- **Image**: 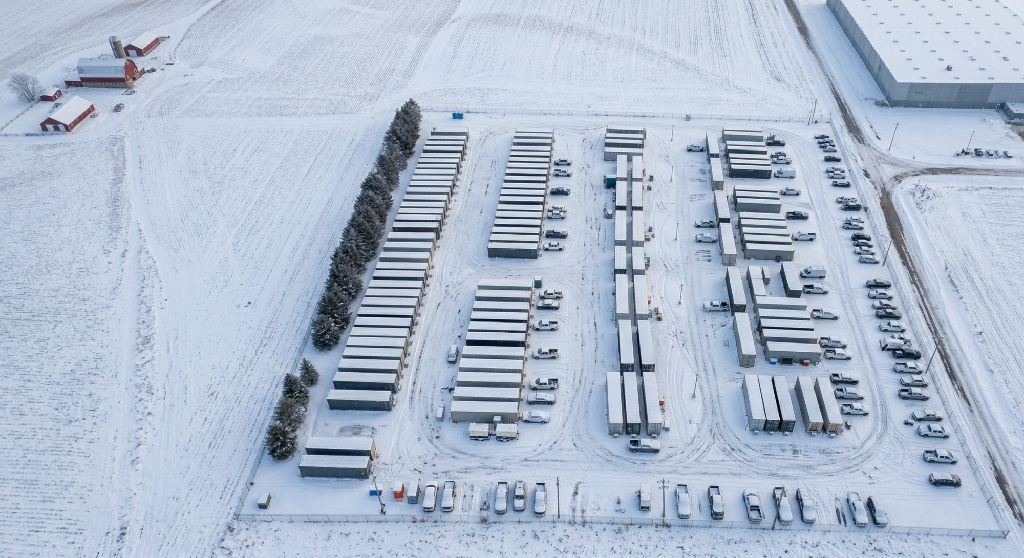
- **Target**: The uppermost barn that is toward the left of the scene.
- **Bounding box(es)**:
[125,28,161,56]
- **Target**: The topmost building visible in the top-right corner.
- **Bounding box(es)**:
[825,0,1024,109]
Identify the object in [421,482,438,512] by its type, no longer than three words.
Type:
car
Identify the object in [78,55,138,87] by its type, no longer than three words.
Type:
barn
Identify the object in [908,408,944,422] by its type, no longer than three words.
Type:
vehicle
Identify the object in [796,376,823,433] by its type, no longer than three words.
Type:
shipping container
